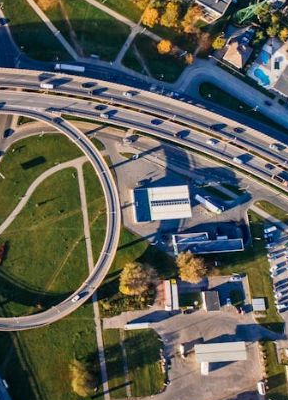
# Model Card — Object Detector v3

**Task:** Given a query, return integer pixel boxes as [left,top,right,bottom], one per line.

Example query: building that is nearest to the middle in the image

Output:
[142,183,191,220]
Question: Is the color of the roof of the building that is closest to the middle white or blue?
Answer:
white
